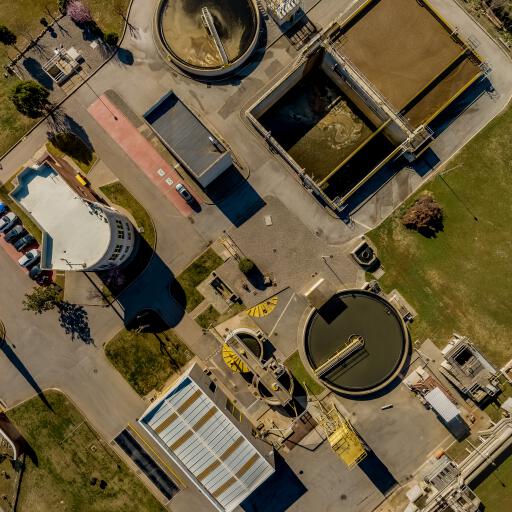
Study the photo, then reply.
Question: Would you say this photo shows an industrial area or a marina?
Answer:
industrial area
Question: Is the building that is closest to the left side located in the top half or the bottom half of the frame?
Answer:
bottom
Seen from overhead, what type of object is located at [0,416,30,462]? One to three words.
building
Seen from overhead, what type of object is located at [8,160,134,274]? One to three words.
building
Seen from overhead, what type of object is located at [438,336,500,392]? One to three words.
house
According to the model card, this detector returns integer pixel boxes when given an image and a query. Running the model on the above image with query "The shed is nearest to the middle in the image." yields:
[304,278,337,311]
